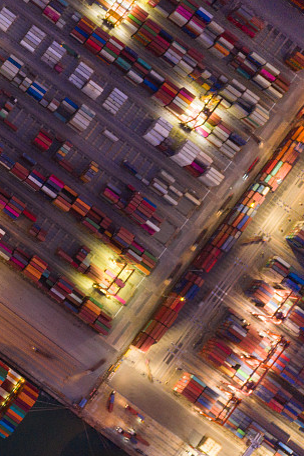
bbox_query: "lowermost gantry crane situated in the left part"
[91,256,135,297]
